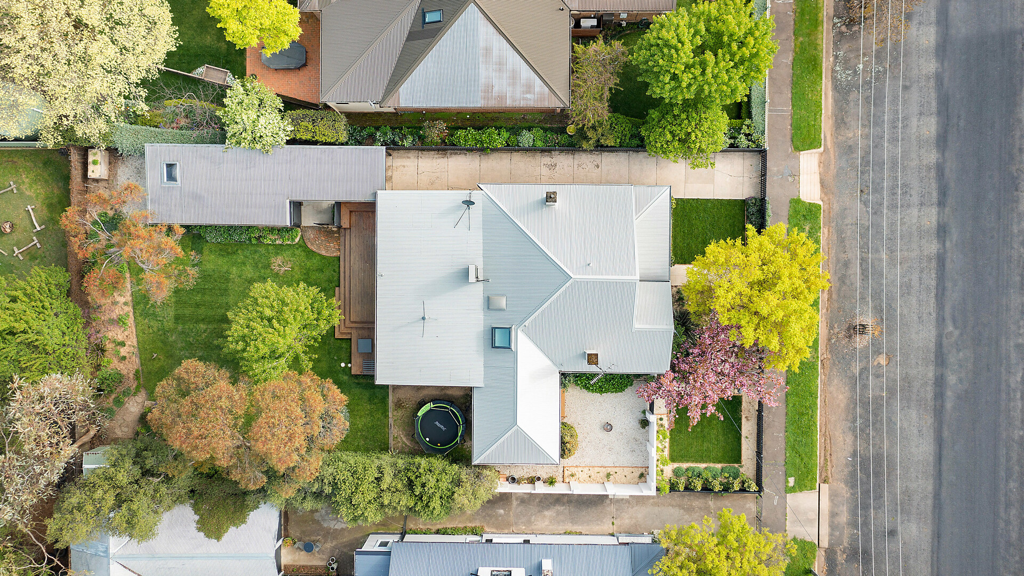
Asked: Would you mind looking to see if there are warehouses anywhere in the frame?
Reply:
No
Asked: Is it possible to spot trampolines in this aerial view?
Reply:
Yes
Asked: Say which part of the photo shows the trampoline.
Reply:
bottom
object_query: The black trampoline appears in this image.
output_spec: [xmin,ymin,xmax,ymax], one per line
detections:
[416,402,465,452]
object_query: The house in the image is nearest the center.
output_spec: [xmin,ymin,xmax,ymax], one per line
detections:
[374,182,674,466]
